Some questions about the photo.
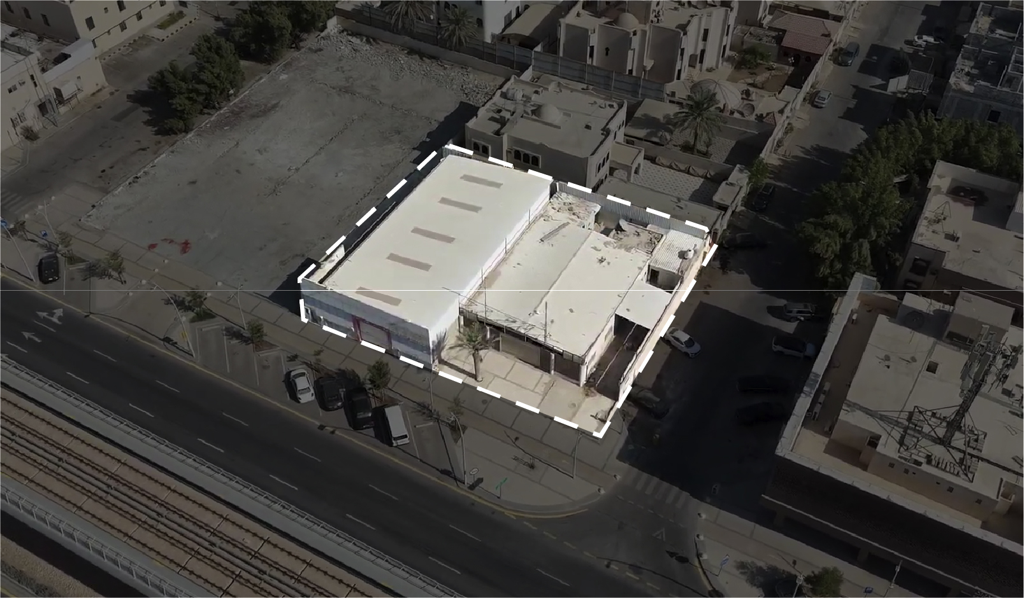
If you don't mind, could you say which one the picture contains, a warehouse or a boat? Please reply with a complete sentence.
It is a warehouse that can be seen here.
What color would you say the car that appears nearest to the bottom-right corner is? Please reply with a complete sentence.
The car that appears nearest to the bottom-right corner looks black in the image.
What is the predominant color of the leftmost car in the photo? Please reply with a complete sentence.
The color of the leftmost car is black.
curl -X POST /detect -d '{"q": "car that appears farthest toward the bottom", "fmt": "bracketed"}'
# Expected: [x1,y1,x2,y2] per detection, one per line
[754,560,807,598]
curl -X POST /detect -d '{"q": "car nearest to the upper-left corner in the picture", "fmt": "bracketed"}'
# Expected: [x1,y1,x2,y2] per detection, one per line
[39,255,66,287]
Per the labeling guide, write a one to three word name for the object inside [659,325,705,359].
car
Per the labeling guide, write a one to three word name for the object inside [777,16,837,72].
house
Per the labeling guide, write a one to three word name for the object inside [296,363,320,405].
car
